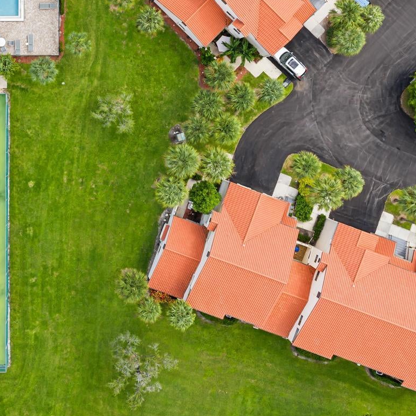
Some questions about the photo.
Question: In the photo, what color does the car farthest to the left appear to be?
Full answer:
The car farthest to the left looks white in the image.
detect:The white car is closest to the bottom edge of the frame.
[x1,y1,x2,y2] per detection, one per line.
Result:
[272,45,308,81]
